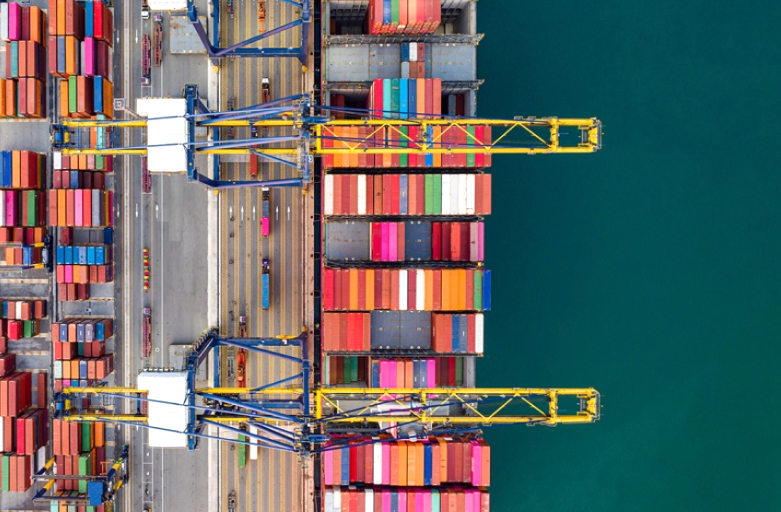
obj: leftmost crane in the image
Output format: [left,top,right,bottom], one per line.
[0,231,53,270]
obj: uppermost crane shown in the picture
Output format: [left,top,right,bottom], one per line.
[144,0,313,65]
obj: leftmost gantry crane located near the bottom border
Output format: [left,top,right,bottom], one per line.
[27,449,127,508]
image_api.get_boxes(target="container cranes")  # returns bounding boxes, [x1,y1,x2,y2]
[47,87,608,192]
[144,0,313,65]
[47,330,607,460]
[0,231,53,270]
[27,449,127,508]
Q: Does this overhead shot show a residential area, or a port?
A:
port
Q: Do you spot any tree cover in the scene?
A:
No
